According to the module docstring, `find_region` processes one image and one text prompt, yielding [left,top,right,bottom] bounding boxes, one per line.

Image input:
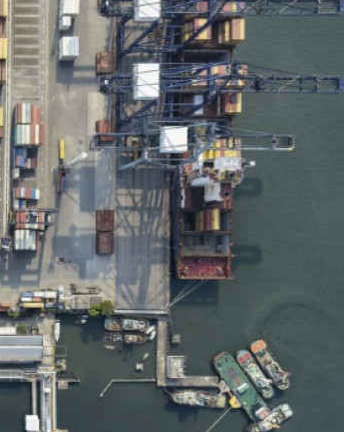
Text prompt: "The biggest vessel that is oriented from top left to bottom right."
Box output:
[215,353,268,419]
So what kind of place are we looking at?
port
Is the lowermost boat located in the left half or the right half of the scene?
right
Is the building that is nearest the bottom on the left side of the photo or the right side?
left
